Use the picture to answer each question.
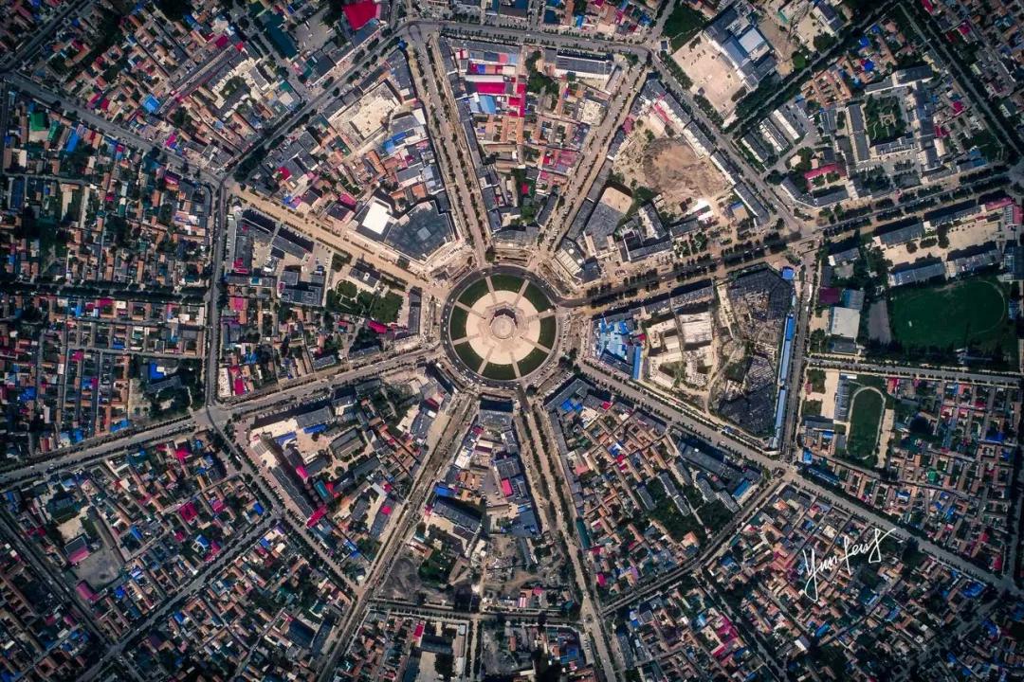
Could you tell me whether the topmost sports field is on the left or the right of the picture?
right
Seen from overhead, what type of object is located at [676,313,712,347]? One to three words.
building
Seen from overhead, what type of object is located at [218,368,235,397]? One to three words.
shed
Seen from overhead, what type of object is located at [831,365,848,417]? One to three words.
building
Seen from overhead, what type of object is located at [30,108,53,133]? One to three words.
shed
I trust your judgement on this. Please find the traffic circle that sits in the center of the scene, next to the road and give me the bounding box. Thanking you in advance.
[440,264,566,390]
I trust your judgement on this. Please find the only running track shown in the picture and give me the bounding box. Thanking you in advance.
[839,374,888,468]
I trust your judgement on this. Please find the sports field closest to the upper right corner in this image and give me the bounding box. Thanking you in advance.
[891,276,1012,355]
